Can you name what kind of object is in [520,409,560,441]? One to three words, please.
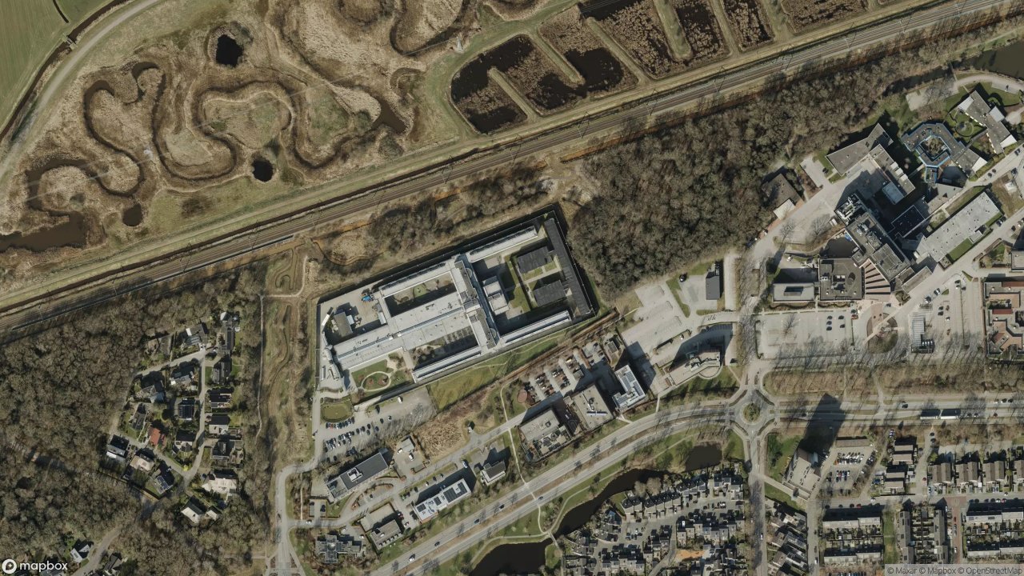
building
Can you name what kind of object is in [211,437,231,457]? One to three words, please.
house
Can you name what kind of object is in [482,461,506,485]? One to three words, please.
building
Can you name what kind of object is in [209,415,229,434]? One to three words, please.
house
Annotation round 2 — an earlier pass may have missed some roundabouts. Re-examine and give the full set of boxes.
[731,381,772,446]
